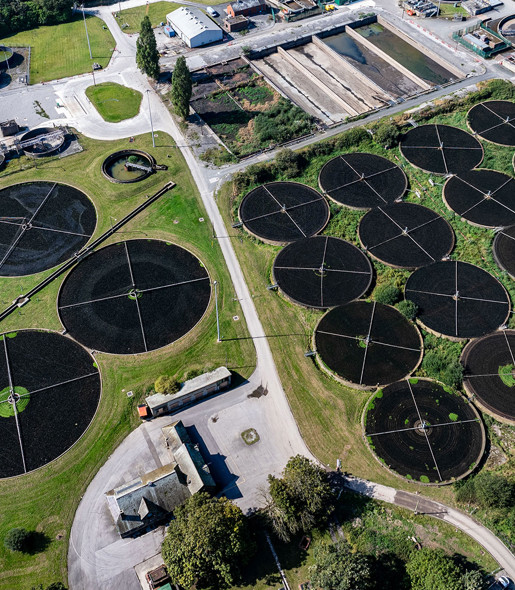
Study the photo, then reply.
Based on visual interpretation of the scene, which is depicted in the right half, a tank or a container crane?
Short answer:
tank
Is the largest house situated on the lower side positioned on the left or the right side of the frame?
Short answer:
left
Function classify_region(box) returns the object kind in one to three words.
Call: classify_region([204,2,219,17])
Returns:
vehicle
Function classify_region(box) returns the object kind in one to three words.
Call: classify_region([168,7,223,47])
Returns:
shed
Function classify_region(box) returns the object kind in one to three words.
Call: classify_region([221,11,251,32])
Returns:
building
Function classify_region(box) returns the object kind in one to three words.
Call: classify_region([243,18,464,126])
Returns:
storage tank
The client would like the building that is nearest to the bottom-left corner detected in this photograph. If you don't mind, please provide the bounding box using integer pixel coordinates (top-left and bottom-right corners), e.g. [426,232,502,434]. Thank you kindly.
[107,421,213,541]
